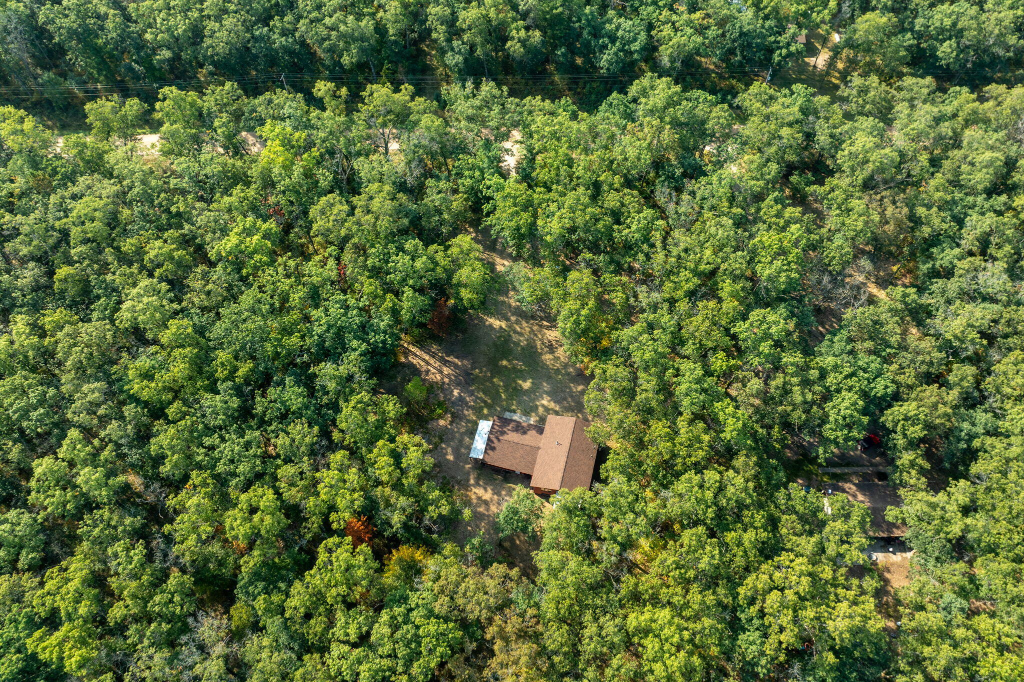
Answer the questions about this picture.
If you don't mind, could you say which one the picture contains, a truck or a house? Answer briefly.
house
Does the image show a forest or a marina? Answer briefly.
forest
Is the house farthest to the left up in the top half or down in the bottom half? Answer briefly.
bottom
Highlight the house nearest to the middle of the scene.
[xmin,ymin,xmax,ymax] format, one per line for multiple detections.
[469,415,600,501]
